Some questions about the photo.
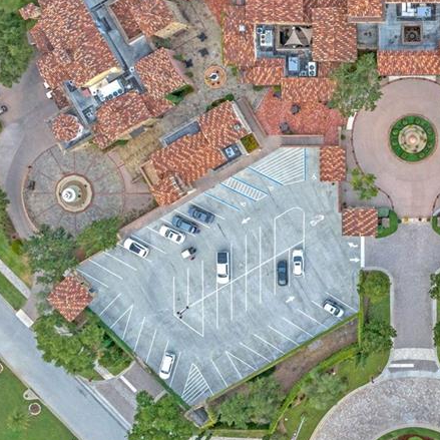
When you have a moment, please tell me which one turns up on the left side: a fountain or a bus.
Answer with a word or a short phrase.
fountain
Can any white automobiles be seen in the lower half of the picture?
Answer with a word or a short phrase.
Yes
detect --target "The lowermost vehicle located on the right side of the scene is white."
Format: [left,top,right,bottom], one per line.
[319,297,345,320]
